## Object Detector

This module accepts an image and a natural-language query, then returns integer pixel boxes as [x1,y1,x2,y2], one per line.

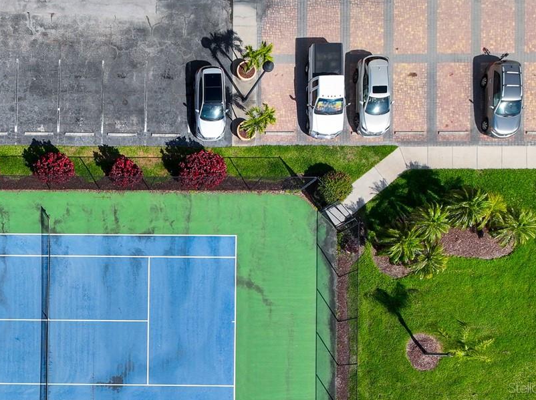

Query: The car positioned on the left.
[192,66,230,142]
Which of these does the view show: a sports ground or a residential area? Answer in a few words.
sports ground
